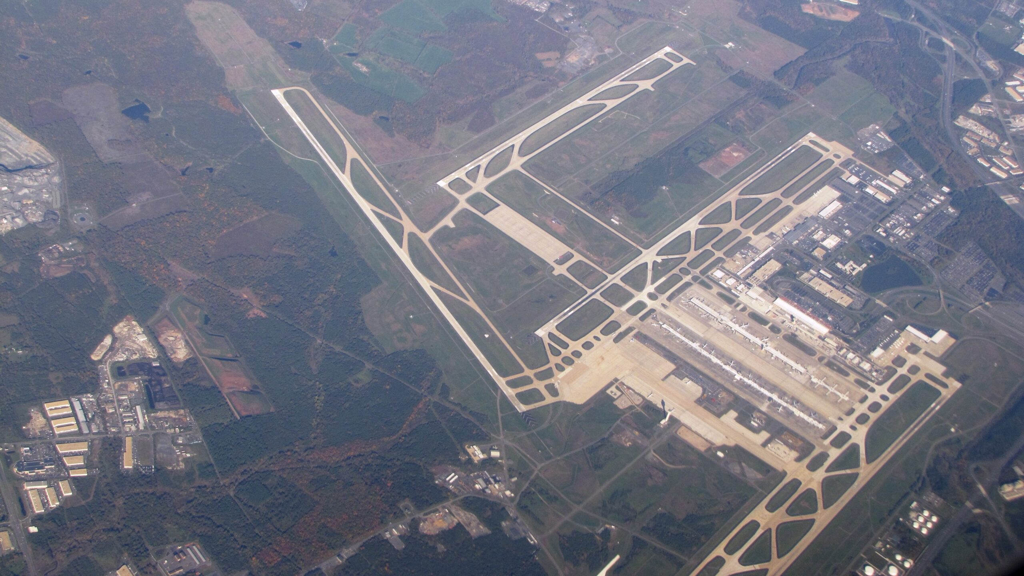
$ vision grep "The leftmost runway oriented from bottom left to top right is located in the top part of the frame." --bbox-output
[437,46,671,186]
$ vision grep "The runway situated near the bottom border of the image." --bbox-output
[768,380,961,576]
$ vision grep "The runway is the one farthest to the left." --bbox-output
[272,90,526,412]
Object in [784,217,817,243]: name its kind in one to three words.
building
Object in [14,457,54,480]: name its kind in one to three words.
building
